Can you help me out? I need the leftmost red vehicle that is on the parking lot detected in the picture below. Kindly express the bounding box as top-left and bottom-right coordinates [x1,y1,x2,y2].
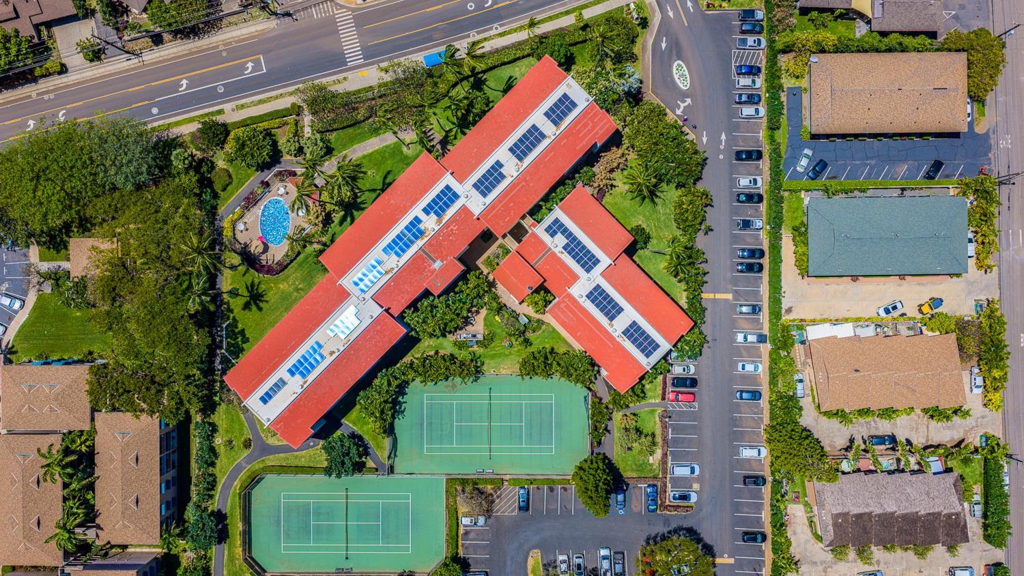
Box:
[668,391,694,404]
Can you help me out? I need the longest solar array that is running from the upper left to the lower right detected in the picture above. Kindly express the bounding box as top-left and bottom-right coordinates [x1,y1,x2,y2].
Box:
[542,217,599,274]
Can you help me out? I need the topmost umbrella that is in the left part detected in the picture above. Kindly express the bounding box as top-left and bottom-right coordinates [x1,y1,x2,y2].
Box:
[250,238,264,252]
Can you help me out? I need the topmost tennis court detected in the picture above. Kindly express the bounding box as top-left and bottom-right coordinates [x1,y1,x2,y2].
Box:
[390,376,591,474]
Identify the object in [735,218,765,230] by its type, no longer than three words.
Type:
vehicle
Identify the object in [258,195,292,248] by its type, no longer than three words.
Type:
swimming pool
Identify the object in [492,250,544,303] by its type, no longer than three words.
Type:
building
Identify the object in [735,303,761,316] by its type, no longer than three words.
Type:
vehicle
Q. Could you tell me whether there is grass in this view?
Yes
